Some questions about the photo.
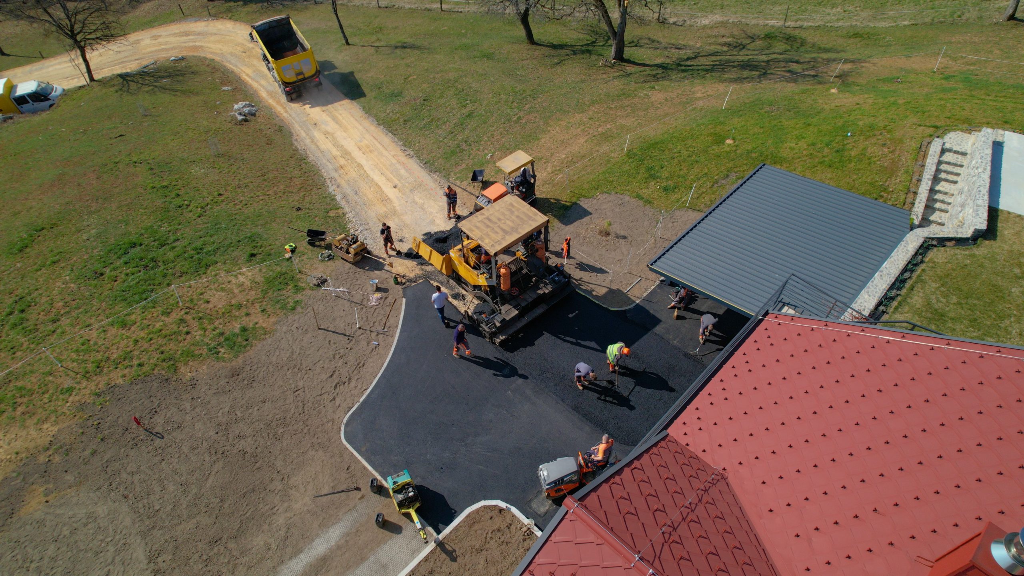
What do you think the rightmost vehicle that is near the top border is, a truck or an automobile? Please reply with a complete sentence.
The rightmost vehicle that is near the top border in the image is a truck.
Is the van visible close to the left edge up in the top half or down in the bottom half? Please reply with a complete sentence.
You can find the van visible close to the left edge in the top half.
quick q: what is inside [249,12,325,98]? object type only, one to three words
truck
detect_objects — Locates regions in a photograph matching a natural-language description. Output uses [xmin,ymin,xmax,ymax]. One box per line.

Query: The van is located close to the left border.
[0,72,68,114]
